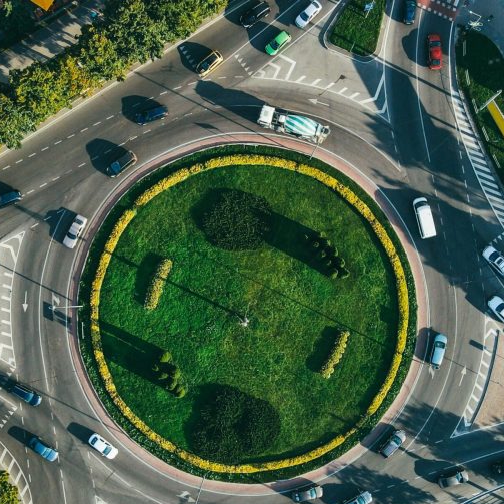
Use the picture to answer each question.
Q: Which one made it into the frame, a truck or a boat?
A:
truck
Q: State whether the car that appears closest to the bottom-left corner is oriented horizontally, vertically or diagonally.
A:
diagonally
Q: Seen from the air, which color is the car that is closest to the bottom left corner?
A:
blue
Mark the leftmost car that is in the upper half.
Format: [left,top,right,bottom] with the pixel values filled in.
[0,190,24,212]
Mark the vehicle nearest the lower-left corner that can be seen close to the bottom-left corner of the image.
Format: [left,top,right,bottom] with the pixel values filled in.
[27,435,59,461]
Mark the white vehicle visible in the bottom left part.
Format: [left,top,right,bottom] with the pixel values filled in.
[87,433,119,458]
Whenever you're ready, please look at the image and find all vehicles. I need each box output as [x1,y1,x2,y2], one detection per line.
[401,0,419,27]
[263,29,293,59]
[106,150,138,179]
[428,332,448,368]
[135,105,168,128]
[413,196,438,239]
[253,101,329,142]
[437,469,468,488]
[294,0,323,32]
[9,382,44,407]
[27,435,59,461]
[194,49,223,78]
[378,429,406,458]
[239,0,272,30]
[292,484,323,501]
[63,215,89,249]
[481,245,504,277]
[87,433,119,458]
[486,295,504,324]
[340,489,373,504]
[425,35,444,72]
[0,190,24,212]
